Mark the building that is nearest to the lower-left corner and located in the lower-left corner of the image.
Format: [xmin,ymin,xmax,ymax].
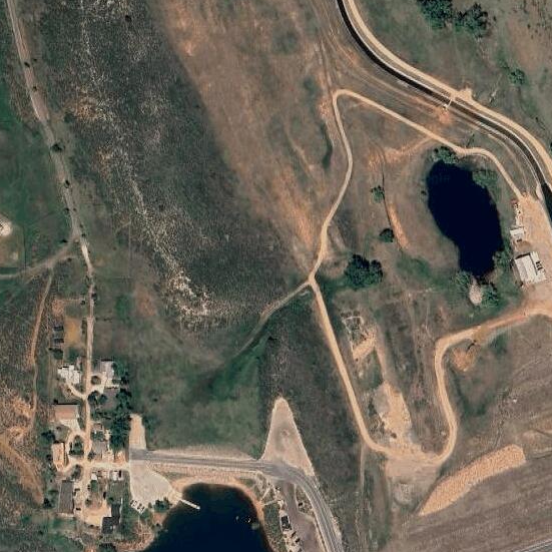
[58,480,74,513]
